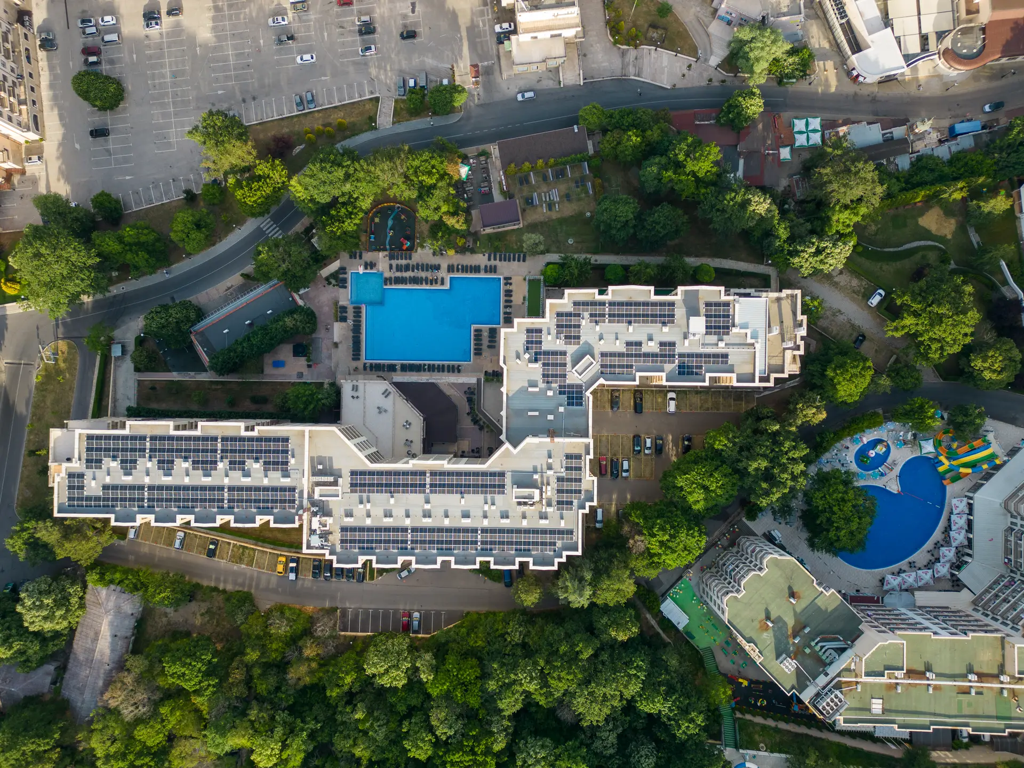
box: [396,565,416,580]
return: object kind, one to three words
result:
car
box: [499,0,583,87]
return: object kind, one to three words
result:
building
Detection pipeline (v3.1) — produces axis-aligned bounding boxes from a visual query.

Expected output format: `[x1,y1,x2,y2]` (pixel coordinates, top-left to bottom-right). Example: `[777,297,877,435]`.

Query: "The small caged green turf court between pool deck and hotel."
[525,274,544,318]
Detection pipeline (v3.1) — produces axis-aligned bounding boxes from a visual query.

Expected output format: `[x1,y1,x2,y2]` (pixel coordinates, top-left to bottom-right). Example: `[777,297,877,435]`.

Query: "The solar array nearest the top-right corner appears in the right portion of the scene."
[702,302,730,336]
